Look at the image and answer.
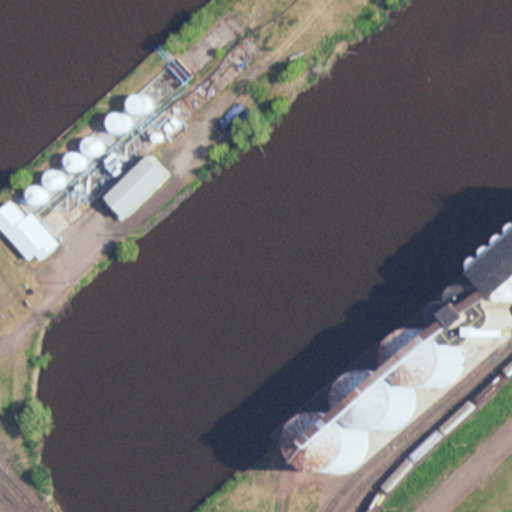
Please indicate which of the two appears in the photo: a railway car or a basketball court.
railway car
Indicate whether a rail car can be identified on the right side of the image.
Yes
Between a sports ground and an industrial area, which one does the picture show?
industrial area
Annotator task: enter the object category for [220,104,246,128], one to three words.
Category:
truck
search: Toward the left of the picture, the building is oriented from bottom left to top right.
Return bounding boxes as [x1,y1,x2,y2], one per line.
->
[104,156,172,220]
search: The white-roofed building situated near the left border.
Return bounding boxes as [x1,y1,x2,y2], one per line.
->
[0,201,62,261]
